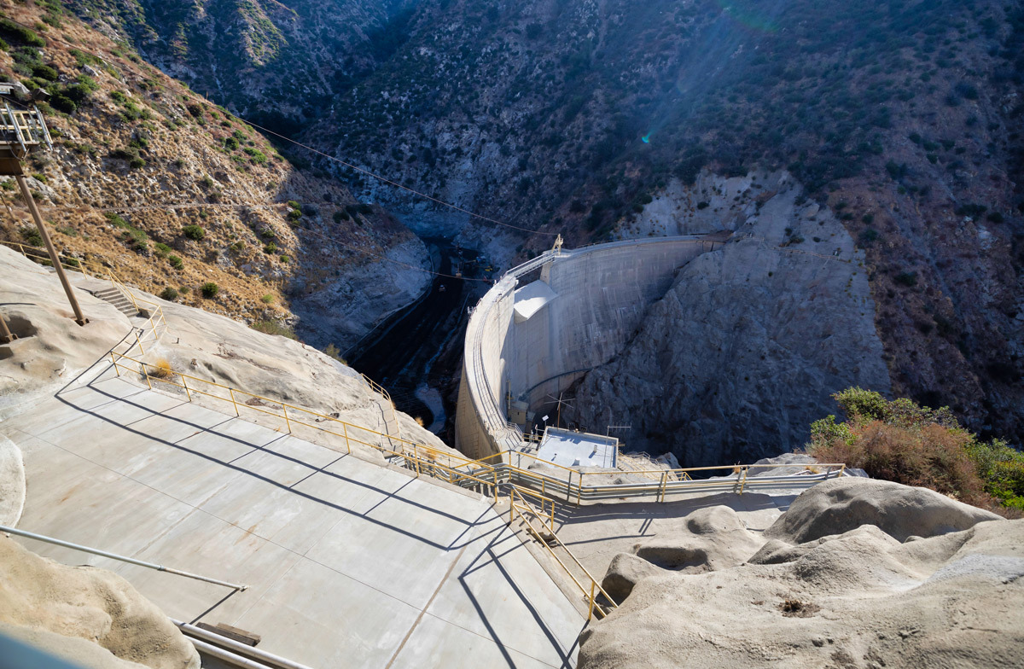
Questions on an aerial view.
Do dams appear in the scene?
Yes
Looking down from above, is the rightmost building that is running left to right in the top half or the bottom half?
bottom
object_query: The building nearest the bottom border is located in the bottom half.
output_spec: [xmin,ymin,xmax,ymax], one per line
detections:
[536,425,621,466]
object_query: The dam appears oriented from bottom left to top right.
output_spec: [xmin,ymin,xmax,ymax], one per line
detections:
[459,233,738,463]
